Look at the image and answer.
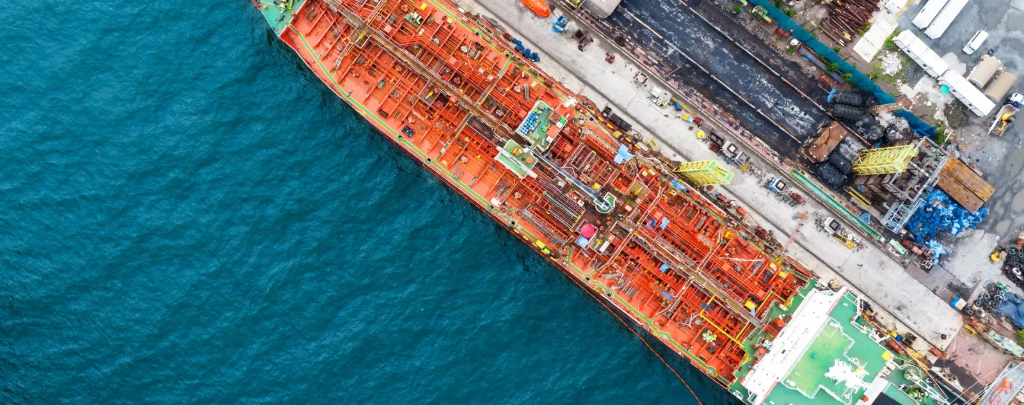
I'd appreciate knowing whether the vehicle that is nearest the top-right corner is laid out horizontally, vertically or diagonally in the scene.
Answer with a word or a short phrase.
diagonally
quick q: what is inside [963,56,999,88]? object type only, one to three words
storage tank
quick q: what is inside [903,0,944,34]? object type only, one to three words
trailer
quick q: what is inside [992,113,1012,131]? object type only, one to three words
work vehicle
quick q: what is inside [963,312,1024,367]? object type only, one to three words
boat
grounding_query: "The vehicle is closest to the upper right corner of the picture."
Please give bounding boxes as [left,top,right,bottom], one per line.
[960,30,988,56]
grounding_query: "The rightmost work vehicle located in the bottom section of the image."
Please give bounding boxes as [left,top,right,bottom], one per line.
[991,248,1008,263]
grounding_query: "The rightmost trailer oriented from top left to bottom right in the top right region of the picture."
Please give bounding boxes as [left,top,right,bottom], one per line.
[940,71,995,117]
